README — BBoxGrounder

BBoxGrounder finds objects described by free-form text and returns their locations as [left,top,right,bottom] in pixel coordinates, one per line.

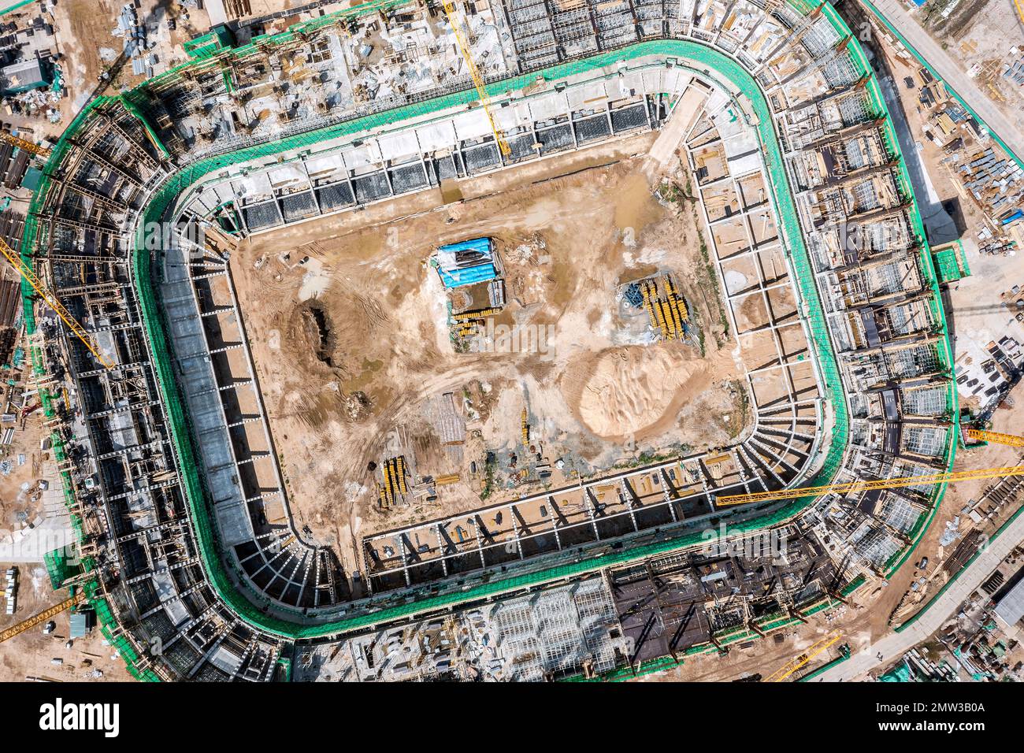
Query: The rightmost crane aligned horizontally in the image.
[713,421,1024,506]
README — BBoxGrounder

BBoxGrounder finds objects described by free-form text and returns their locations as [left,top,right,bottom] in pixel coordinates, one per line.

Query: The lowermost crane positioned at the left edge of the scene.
[0,584,94,655]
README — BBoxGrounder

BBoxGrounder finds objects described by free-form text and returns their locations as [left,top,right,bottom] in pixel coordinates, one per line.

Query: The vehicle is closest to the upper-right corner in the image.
[1001,336,1024,356]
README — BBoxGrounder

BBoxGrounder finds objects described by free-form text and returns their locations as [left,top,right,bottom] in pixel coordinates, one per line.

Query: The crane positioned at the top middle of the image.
[442,0,510,156]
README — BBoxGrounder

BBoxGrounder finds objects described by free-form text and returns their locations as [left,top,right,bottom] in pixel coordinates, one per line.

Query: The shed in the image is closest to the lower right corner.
[986,568,1024,626]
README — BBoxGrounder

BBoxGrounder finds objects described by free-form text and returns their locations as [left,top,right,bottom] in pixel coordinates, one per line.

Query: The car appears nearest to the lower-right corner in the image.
[918,555,930,572]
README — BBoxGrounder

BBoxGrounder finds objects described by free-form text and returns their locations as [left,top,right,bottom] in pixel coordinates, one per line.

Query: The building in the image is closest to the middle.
[439,239,505,288]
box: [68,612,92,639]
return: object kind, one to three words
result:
shed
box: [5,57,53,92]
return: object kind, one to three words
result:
shed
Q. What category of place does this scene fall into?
sports ground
